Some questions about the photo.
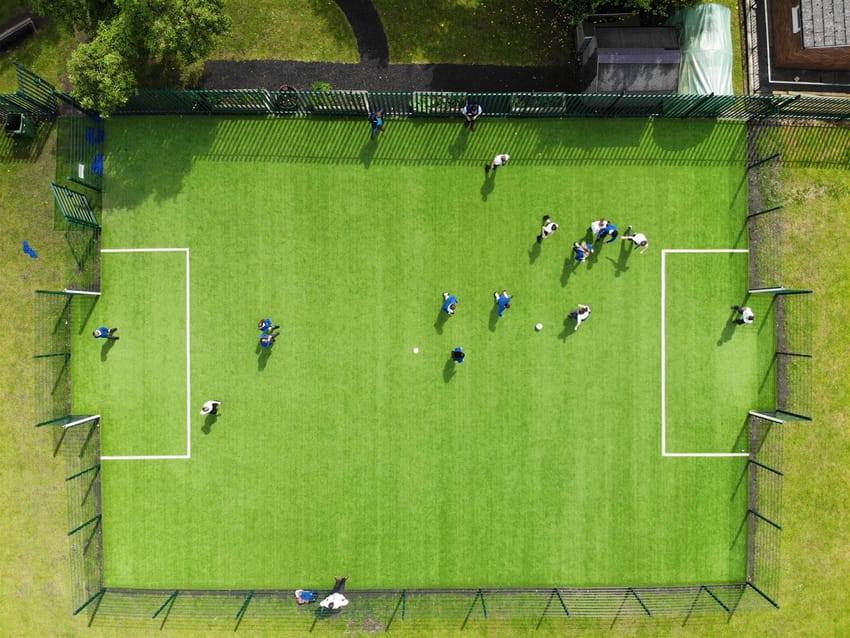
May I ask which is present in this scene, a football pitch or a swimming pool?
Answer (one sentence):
The image shows a football pitch.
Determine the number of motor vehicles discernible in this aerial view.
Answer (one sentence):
The count of motor vehicles is 0.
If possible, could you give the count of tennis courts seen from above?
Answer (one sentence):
Not a single tennis court can be seen.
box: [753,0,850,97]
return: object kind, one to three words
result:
building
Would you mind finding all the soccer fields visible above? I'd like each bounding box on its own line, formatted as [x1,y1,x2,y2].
[67,115,779,592]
